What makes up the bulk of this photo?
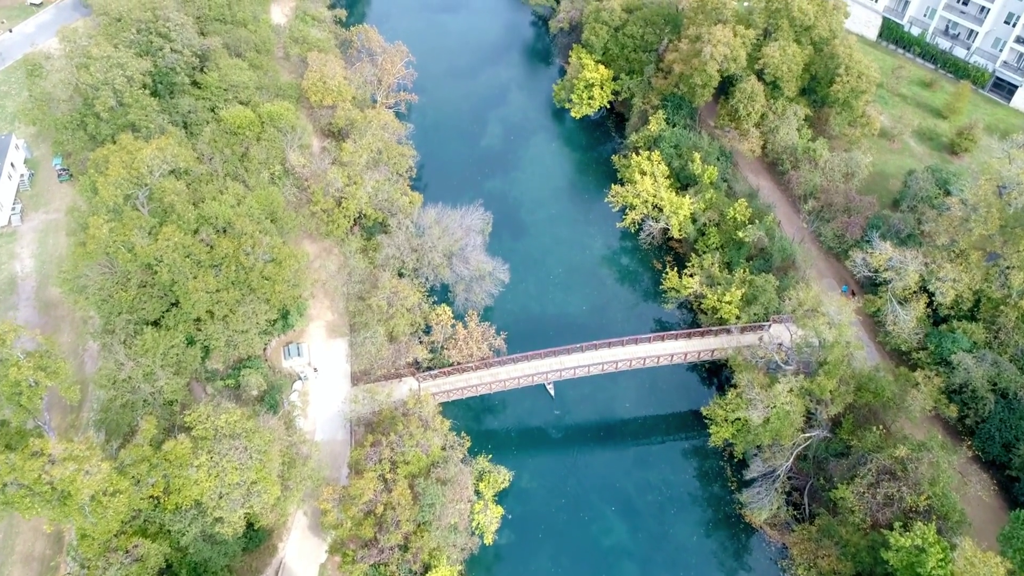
trees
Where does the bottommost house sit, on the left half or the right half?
left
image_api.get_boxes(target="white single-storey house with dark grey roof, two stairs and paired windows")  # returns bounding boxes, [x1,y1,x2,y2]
[0,124,43,226]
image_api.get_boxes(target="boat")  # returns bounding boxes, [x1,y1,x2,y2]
[543,383,555,399]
